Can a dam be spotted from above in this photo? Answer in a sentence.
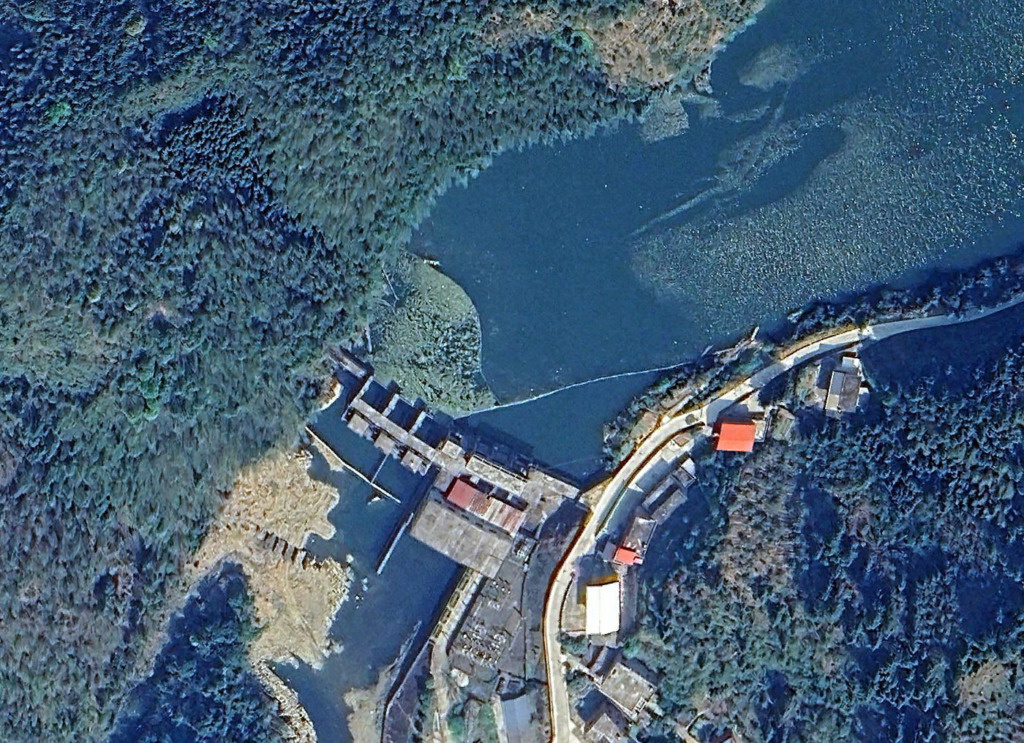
Yes, there's a dam here.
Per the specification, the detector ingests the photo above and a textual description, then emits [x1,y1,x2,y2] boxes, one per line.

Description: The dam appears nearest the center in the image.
[329,349,580,540]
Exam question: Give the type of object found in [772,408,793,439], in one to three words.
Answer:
building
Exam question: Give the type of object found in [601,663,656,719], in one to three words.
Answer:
house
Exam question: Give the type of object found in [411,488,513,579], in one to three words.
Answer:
building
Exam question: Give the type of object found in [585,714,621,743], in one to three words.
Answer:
house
